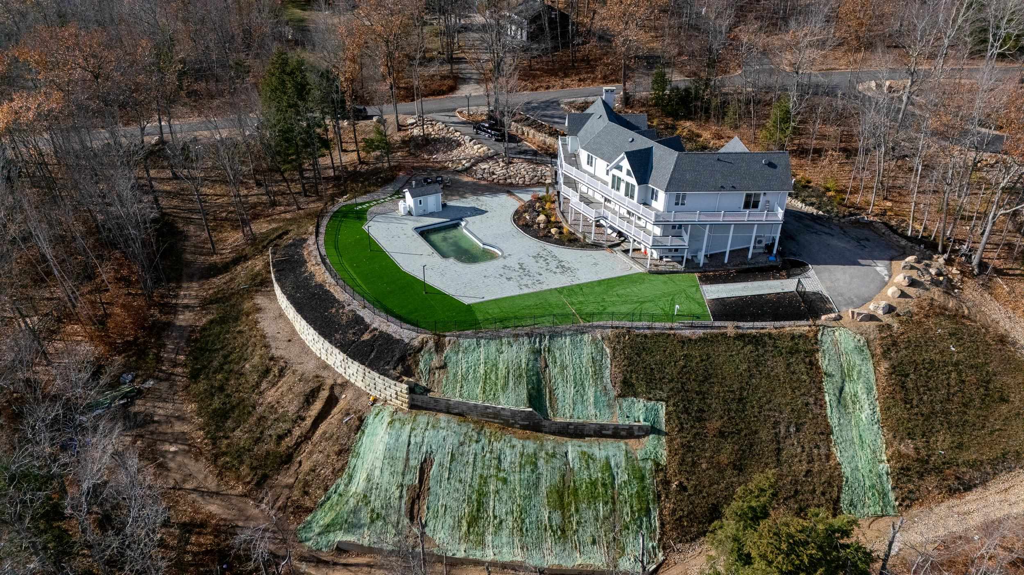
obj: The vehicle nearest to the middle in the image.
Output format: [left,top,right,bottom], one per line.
[469,119,514,141]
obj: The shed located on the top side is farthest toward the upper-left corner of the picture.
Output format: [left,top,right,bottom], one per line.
[404,176,443,216]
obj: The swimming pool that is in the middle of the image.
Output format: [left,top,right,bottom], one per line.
[412,218,505,264]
